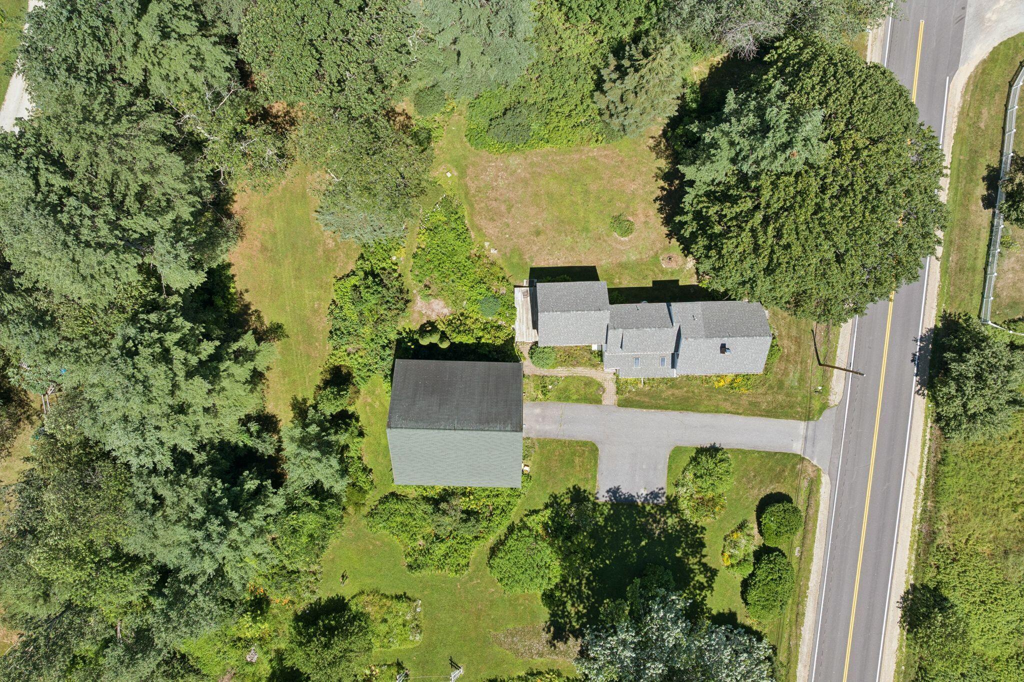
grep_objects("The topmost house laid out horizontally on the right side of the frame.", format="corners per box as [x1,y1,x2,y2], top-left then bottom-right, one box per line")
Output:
[536,282,773,379]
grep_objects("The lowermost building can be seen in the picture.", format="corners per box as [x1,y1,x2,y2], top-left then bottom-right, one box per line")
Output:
[387,359,524,488]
